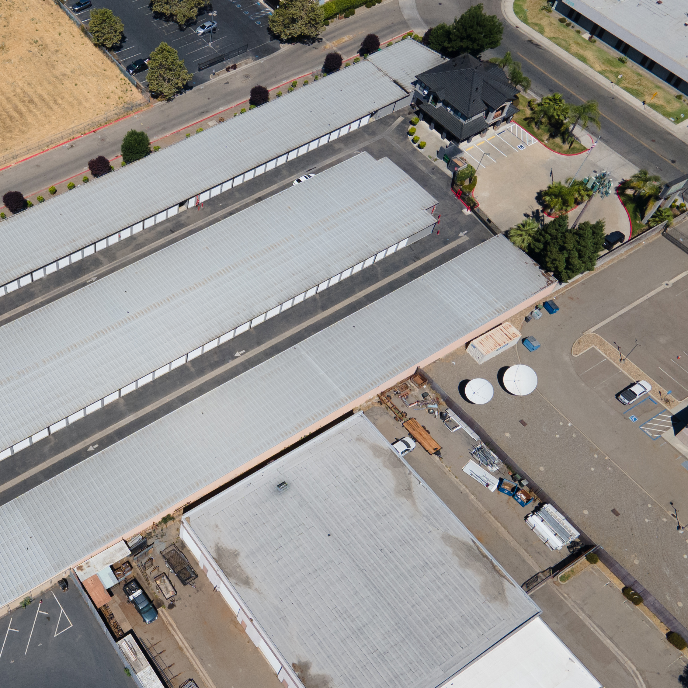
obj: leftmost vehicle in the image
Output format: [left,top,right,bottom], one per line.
[69,0,95,15]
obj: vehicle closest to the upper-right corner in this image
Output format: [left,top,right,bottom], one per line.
[601,231,627,252]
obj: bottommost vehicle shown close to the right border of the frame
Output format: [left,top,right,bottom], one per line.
[612,380,655,409]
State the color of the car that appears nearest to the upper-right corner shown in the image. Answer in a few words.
black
